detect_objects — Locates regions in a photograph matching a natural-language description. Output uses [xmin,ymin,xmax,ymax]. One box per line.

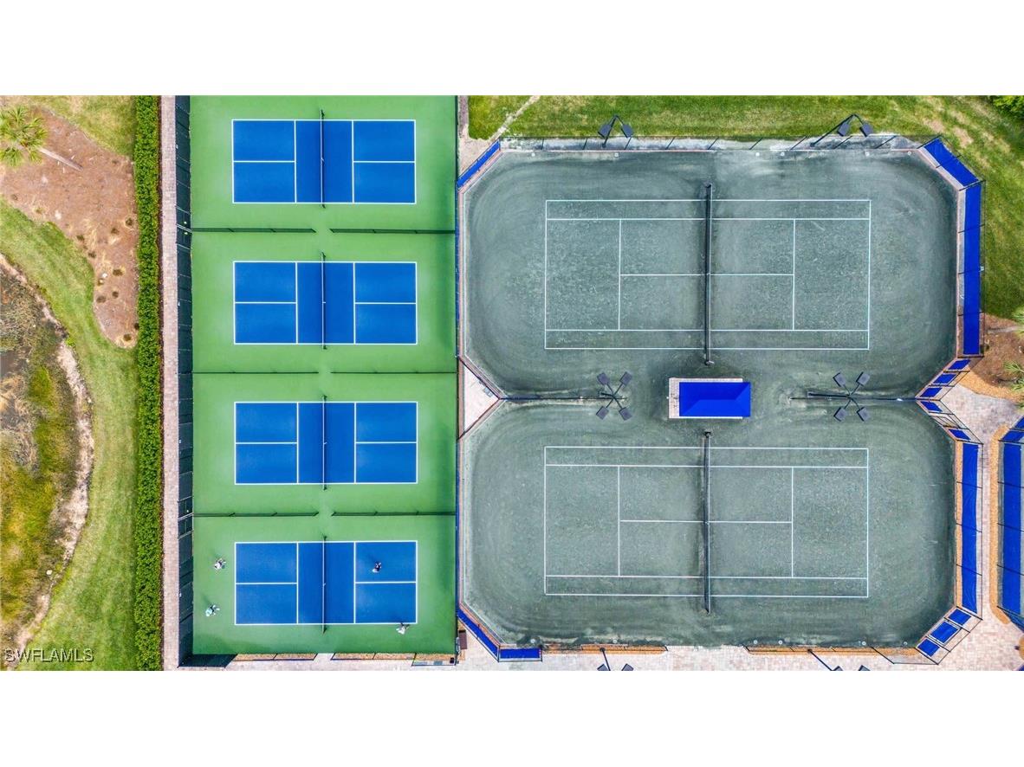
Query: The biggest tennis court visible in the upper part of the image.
[460,148,960,398]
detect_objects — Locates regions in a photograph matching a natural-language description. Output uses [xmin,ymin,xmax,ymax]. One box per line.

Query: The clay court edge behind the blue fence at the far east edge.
[999,417,1024,619]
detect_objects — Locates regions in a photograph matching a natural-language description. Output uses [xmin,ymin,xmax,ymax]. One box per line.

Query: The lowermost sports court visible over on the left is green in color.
[192,514,454,654]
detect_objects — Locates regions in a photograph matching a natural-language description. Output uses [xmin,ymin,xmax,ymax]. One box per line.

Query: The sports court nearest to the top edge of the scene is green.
[189,90,453,229]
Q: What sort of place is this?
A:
sports ground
